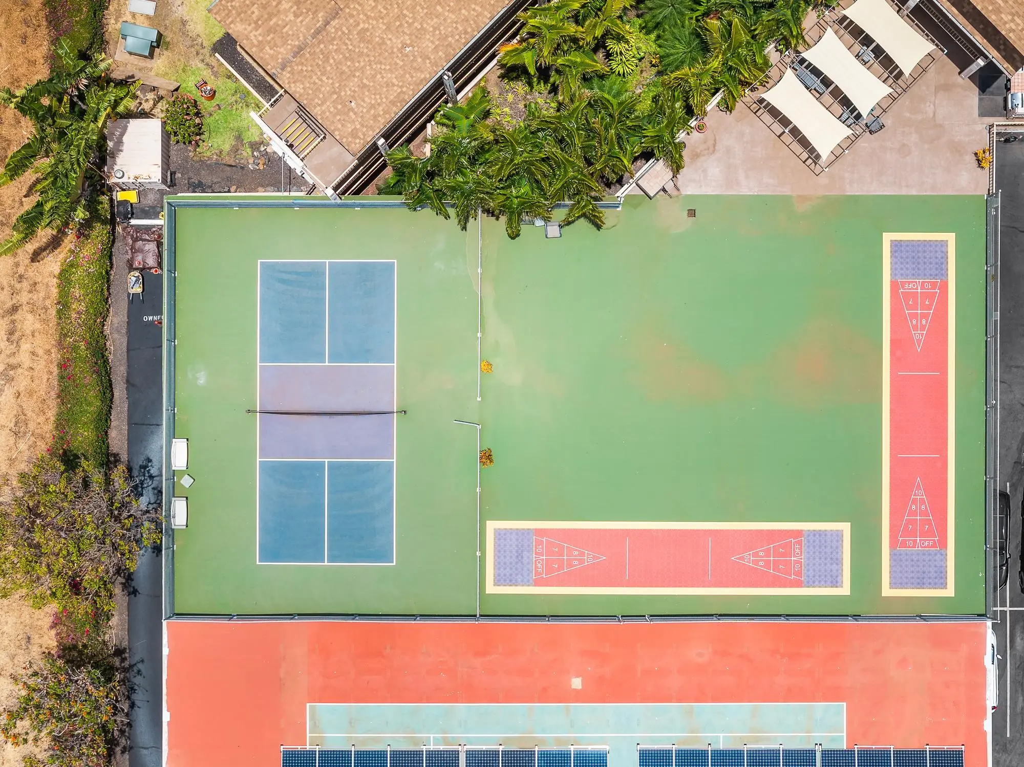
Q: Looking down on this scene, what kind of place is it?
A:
sports ground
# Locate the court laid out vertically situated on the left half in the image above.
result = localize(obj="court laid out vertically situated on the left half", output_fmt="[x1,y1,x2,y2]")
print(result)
[257,260,397,565]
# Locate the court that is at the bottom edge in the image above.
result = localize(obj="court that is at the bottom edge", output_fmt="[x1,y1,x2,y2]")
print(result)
[164,619,992,767]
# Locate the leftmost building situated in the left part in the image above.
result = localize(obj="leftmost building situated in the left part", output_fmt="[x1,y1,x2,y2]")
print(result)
[214,0,555,195]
